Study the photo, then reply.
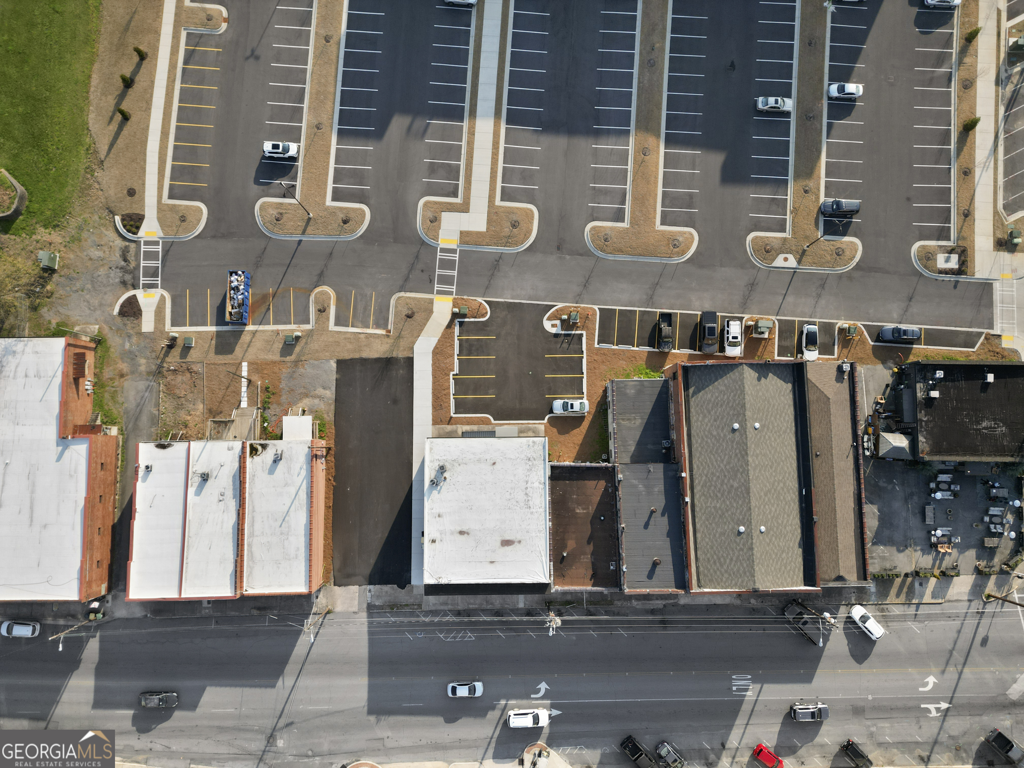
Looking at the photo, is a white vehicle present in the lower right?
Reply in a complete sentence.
Yes, a white vehicle shows up in the lower right.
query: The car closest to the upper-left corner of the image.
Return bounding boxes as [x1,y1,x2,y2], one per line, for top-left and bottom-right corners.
[263,141,300,160]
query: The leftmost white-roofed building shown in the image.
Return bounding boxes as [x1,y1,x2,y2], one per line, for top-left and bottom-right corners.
[0,336,122,603]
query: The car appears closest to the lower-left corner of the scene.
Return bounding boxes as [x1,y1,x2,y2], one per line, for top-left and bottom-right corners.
[2,619,42,638]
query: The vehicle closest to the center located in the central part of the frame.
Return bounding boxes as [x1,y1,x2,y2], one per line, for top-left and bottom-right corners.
[552,399,589,415]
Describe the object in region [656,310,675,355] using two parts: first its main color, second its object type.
black vehicle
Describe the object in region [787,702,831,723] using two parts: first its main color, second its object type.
gray car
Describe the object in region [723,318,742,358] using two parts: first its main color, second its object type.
white car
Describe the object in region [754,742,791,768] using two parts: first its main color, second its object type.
red car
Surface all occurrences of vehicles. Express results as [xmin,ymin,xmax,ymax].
[507,707,549,729]
[700,310,719,355]
[800,325,820,361]
[447,679,485,699]
[879,325,920,343]
[755,97,791,115]
[620,733,655,768]
[985,728,1024,768]
[825,83,863,101]
[656,310,675,355]
[787,702,831,723]
[723,318,742,358]
[850,604,884,642]
[782,603,825,647]
[754,742,791,768]
[139,689,180,709]
[820,200,859,218]
[2,619,42,638]
[839,738,874,768]
[552,399,589,415]
[263,141,300,160]
[922,0,960,11]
